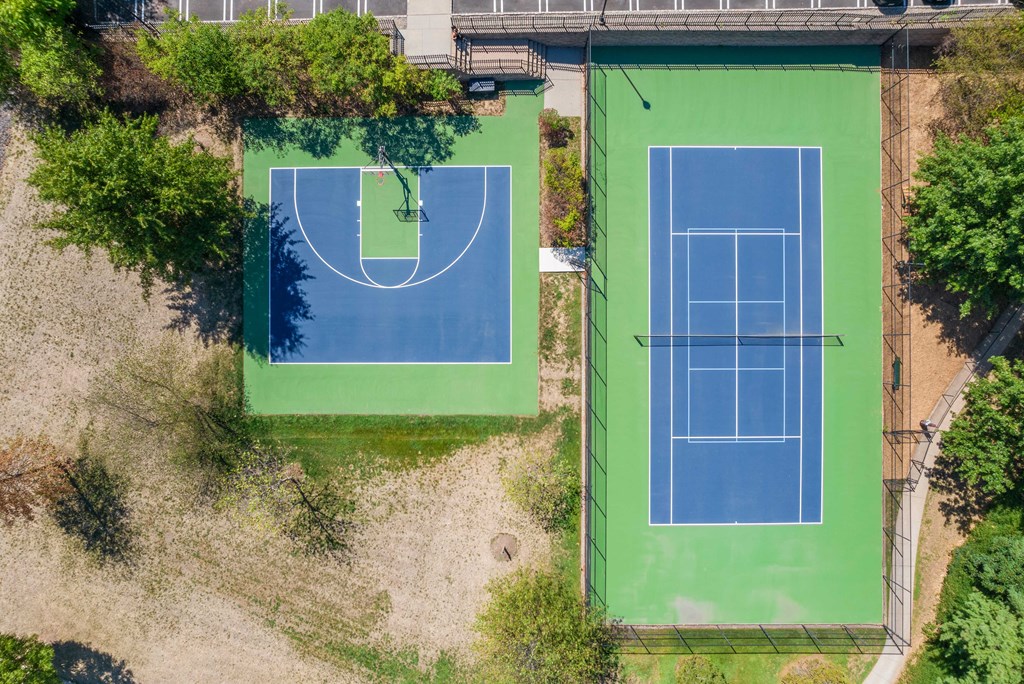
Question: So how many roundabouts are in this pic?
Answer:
0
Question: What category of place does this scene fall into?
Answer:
sports ground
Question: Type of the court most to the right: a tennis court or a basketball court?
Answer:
tennis court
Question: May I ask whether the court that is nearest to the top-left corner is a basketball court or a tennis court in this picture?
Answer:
basketball court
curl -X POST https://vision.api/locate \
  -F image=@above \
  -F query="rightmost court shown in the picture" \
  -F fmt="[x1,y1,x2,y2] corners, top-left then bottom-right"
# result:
[585,46,882,624]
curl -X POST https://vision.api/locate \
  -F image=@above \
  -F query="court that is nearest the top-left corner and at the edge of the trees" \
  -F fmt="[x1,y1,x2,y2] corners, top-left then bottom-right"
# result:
[243,82,545,415]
